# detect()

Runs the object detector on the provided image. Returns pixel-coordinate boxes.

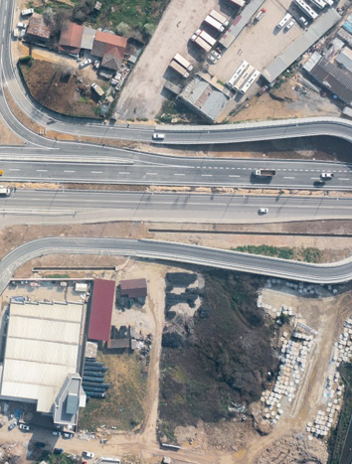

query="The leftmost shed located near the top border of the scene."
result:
[25,12,51,39]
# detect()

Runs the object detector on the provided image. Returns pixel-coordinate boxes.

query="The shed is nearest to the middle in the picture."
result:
[118,278,148,297]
